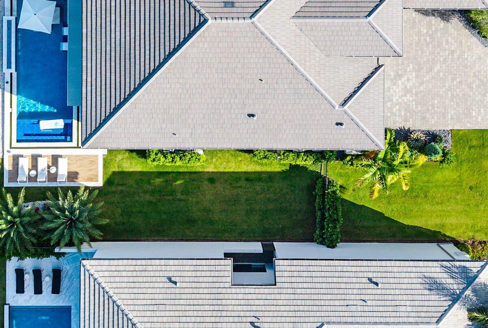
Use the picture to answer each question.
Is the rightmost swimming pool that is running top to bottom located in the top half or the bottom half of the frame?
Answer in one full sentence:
The rightmost swimming pool that is running top to bottom sits in the top half of the picture.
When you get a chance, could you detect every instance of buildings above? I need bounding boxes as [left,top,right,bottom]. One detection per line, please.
[79,240,488,328]
[79,0,488,150]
